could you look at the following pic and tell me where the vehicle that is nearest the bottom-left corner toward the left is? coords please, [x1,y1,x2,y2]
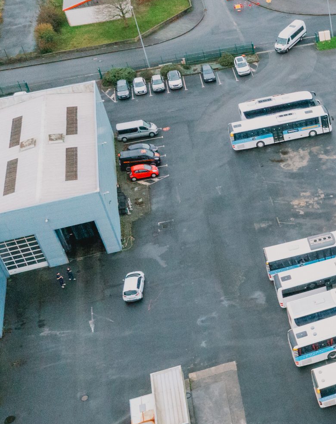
[122,270,143,299]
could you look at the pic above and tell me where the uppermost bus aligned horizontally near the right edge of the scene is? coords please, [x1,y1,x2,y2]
[234,83,328,123]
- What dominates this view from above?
paved ground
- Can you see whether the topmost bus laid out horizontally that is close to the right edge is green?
No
